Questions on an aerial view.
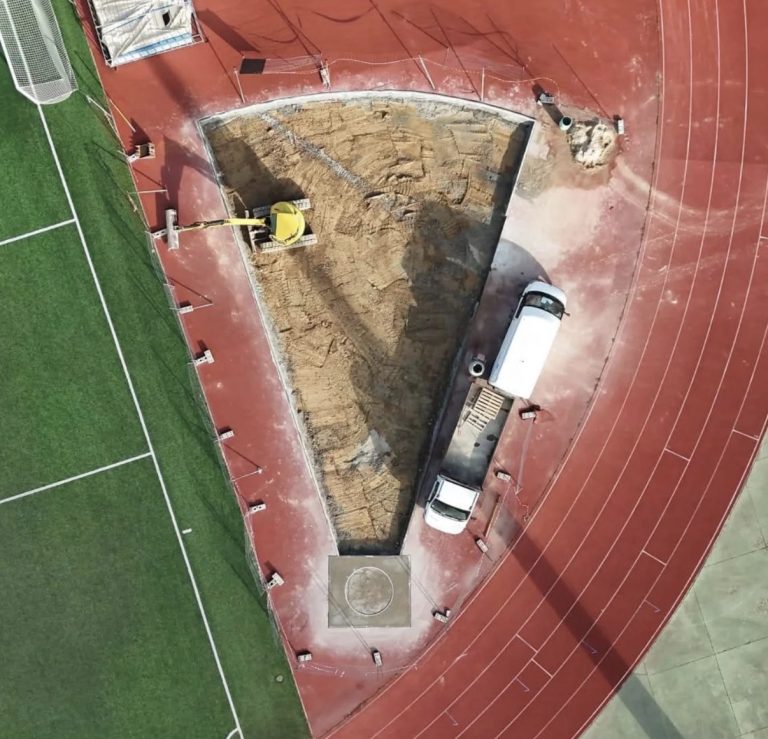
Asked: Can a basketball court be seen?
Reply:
No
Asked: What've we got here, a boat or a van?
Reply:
van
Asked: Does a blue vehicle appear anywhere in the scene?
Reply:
No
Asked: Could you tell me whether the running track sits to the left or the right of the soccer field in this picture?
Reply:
right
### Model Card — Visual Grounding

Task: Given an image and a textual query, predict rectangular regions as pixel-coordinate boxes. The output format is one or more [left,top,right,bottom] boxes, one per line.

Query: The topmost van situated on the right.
[484,284,566,403]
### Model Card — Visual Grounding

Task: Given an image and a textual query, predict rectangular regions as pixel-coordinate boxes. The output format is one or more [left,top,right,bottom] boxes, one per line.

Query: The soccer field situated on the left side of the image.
[0,0,315,739]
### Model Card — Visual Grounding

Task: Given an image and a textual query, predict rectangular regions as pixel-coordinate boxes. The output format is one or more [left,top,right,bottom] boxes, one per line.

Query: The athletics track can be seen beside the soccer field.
[315,0,768,739]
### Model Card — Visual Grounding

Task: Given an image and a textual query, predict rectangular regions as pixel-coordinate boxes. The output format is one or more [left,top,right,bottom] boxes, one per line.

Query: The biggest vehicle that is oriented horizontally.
[166,197,317,253]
